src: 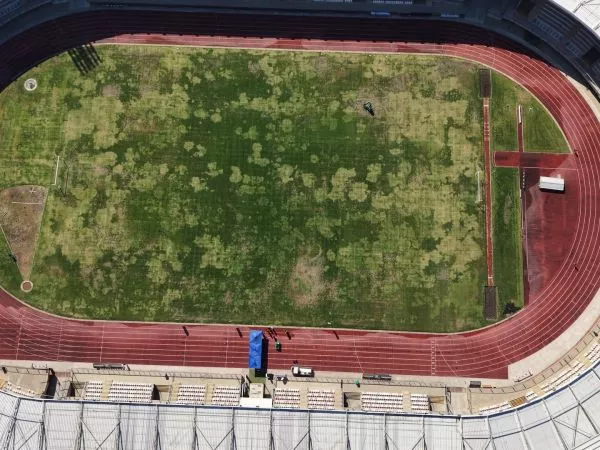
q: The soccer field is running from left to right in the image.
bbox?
[0,44,575,332]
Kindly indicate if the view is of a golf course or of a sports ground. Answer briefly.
sports ground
